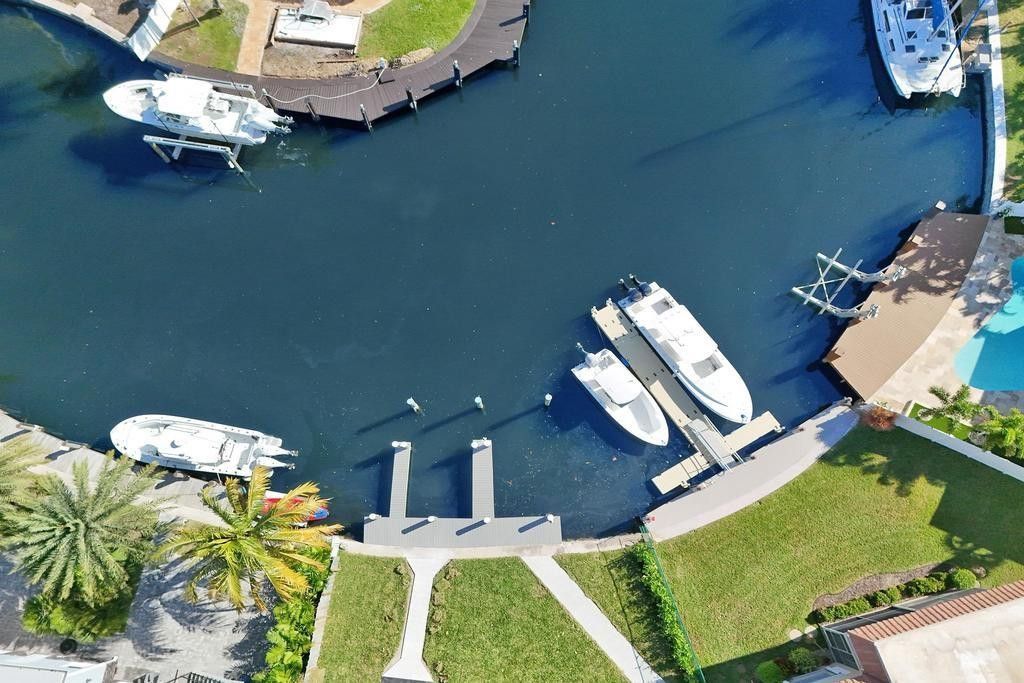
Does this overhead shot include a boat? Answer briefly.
Yes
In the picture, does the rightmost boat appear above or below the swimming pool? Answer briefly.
above it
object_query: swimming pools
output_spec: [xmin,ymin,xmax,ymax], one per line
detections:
[948,250,1024,398]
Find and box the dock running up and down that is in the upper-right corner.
[964,0,990,70]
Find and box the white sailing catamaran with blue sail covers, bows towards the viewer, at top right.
[873,0,990,98]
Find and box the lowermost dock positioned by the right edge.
[821,212,991,404]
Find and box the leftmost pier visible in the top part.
[147,0,530,125]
